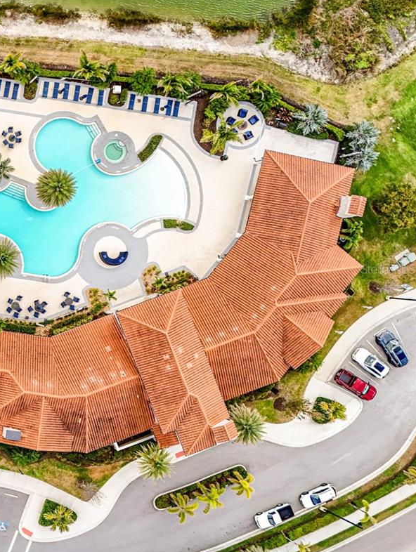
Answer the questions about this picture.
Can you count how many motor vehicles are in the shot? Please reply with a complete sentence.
In total, there are 5 motor vehicles in the scene.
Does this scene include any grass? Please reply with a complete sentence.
Yes, some grass is visible.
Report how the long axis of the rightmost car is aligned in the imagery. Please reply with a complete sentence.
I'd say the rightmost car is aligned diagonally in the picture.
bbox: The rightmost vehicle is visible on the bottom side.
[372,327,407,368]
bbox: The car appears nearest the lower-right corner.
[296,481,336,506]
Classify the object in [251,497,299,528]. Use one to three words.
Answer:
truck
